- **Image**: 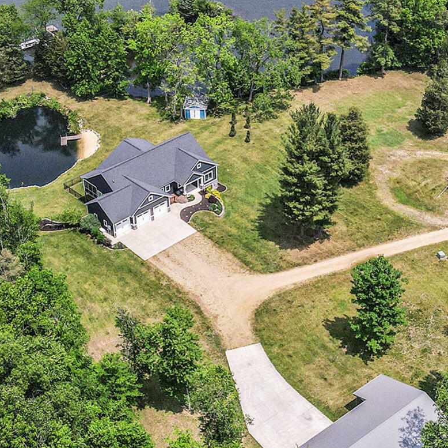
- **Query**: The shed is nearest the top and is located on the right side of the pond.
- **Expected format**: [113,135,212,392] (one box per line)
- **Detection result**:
[182,95,207,118]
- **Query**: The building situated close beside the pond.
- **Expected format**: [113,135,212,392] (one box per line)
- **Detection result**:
[81,133,219,237]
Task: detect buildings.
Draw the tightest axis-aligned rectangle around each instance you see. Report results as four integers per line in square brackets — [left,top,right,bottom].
[182,95,207,118]
[297,377,442,448]
[81,133,219,237]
